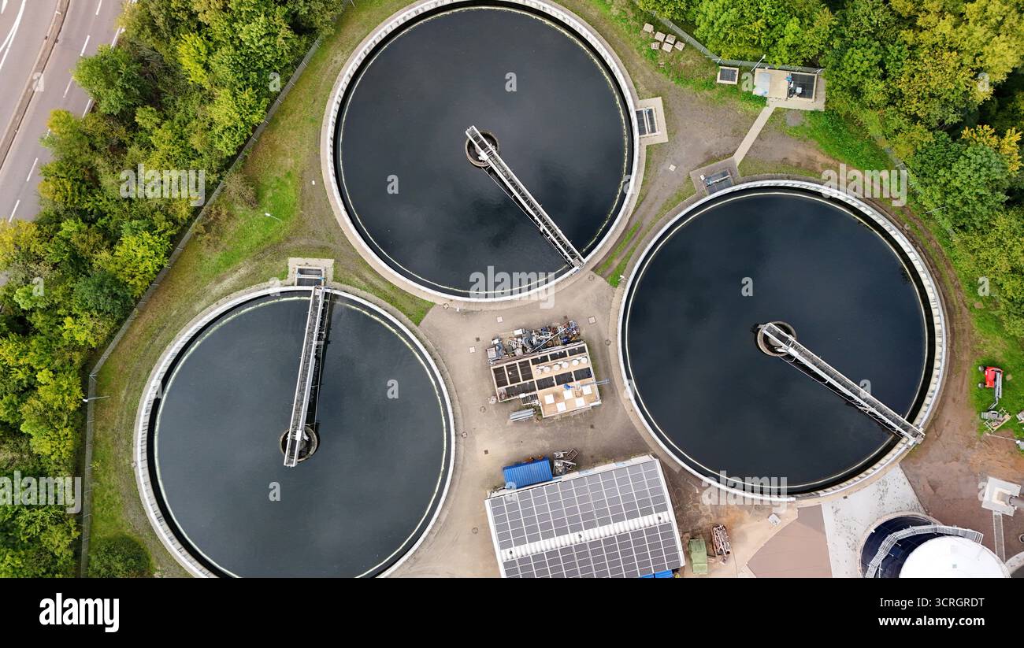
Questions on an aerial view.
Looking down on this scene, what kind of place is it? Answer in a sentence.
This looks like an industrial area.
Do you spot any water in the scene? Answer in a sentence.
Yes, some water is visible.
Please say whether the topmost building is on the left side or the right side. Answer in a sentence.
The topmost building is on the right side of the image.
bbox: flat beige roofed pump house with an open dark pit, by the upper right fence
[750,69,816,104]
